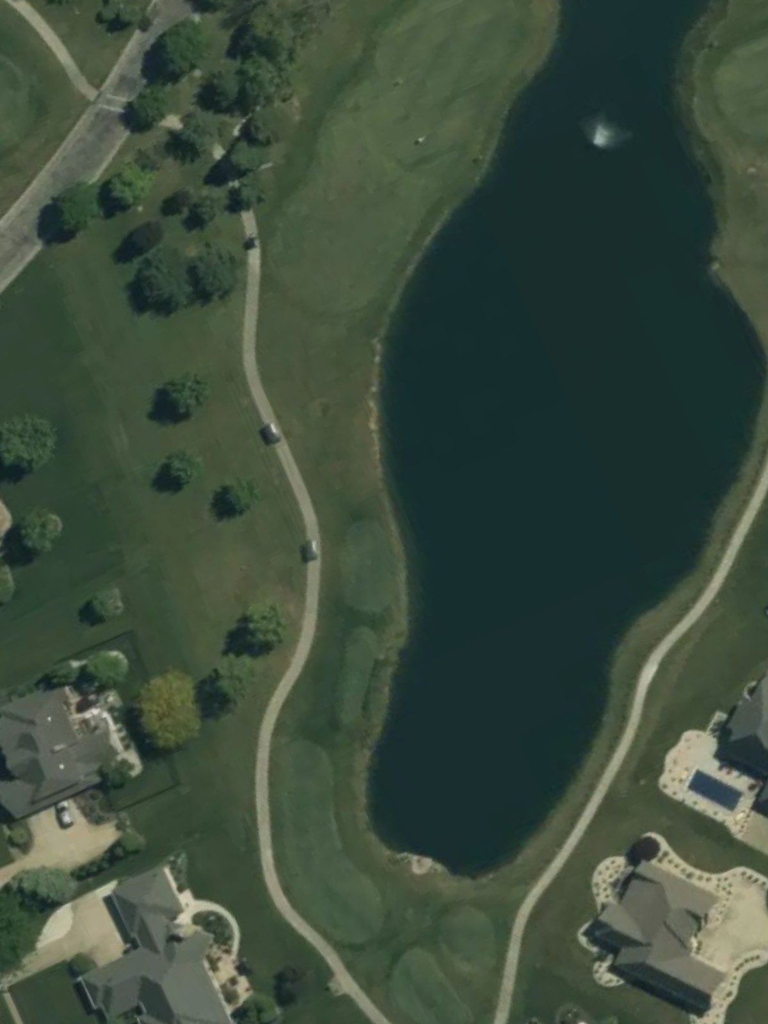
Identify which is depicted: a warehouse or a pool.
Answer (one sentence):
This aerial view contains a pool.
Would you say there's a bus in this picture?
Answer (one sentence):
No, there's no bus here.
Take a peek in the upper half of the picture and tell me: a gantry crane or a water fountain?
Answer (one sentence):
There is a water fountain in the upper half of the picture.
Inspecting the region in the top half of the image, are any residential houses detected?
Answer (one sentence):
No, there's no residential house to be seen in the top half of the image.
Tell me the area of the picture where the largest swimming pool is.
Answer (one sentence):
You can find the largest swimming pool in the bottom right area of the picture.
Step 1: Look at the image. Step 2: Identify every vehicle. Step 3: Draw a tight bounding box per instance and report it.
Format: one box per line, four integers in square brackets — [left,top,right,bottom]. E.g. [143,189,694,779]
[246,233,259,250]
[59,805,78,832]
[304,540,319,558]
[265,423,281,440]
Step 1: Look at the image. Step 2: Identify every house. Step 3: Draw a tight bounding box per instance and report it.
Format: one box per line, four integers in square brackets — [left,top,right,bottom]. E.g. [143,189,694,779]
[595,858,733,1018]
[75,868,239,1024]
[0,685,127,817]
[723,683,768,802]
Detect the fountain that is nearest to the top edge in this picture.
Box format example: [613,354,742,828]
[588,123,623,156]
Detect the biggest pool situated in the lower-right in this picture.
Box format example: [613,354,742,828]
[686,767,744,813]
